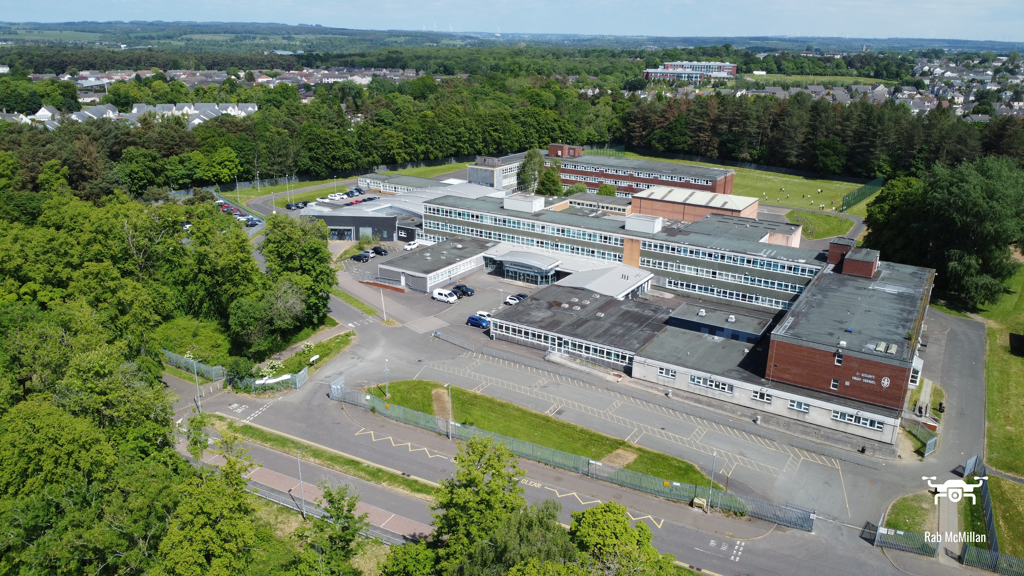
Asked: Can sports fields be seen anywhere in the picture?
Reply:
Yes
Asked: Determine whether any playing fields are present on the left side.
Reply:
No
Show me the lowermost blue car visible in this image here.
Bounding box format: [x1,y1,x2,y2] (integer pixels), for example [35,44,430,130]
[467,313,490,327]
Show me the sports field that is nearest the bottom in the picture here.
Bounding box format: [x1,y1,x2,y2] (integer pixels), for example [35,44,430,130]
[587,147,921,238]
